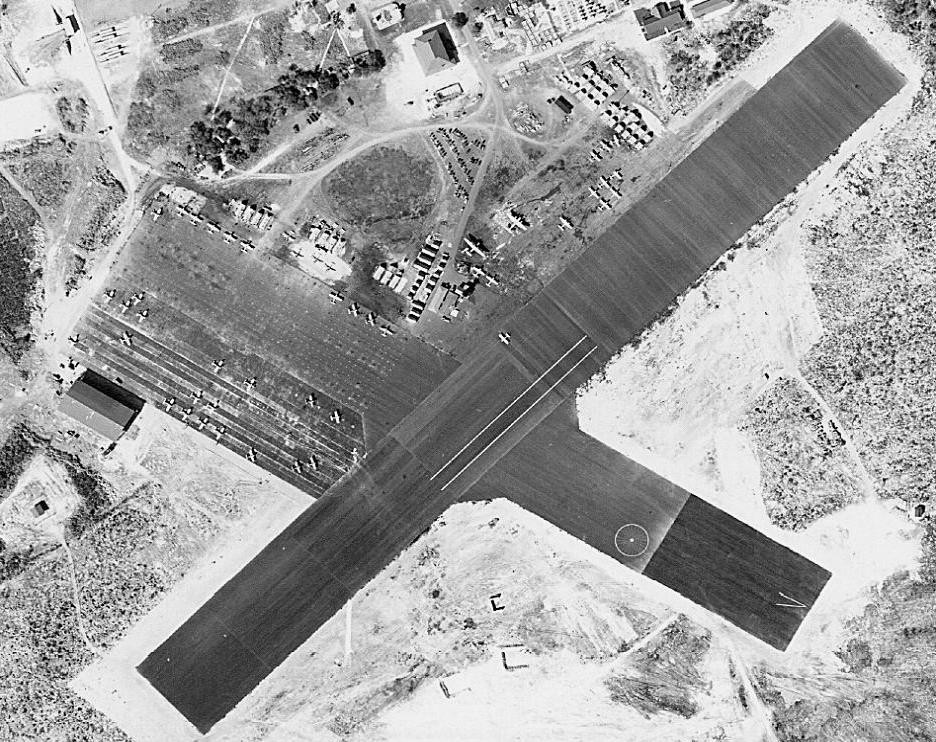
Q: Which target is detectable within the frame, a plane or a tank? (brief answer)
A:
plane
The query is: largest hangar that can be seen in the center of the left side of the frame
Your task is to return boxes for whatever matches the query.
[60,377,137,441]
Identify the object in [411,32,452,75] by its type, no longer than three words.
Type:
building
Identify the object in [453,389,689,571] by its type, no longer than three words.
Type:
runway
